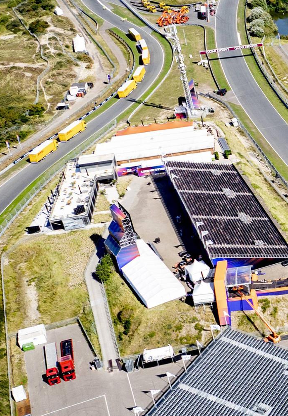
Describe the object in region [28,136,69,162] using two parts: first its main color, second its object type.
yellow truck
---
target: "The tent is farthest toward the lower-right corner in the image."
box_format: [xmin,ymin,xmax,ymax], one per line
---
[189,283,217,304]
